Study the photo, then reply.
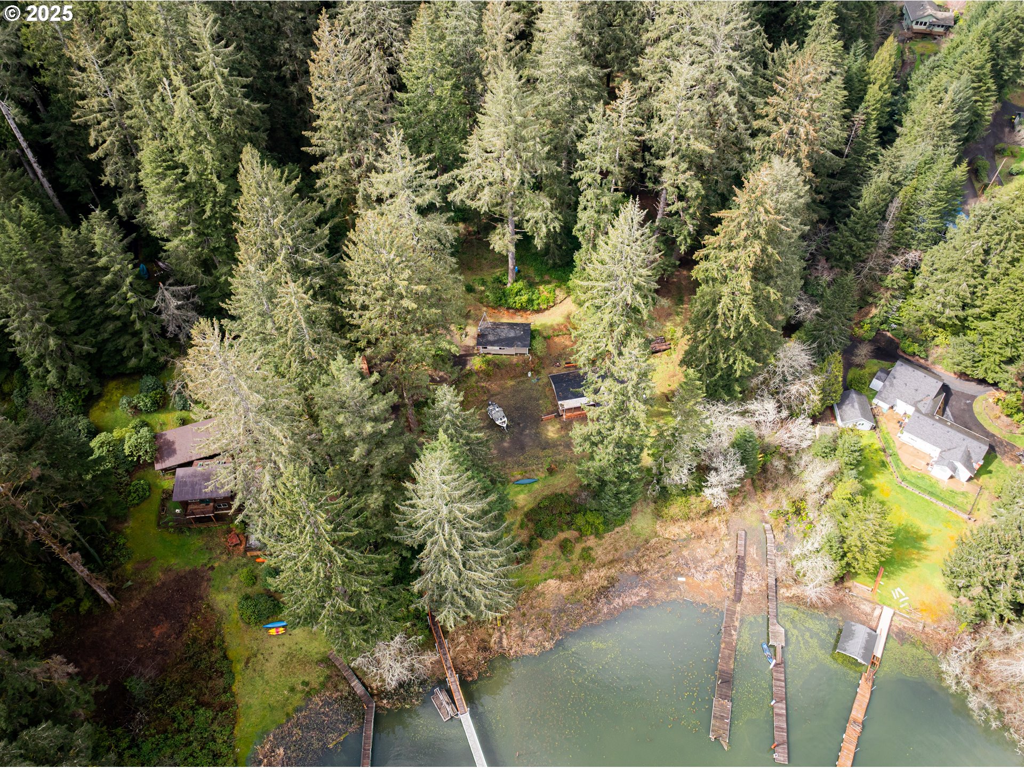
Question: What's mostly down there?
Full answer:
Most of the picture is covered by trees.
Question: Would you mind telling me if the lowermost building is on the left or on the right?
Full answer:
You can find the lowermost building on the right side of the picture.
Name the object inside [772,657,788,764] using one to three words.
pier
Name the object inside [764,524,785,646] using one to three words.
pier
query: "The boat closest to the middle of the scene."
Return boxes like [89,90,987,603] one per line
[487,395,506,424]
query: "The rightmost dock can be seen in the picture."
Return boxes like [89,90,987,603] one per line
[836,672,873,768]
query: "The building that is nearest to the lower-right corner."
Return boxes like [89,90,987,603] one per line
[833,620,873,669]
